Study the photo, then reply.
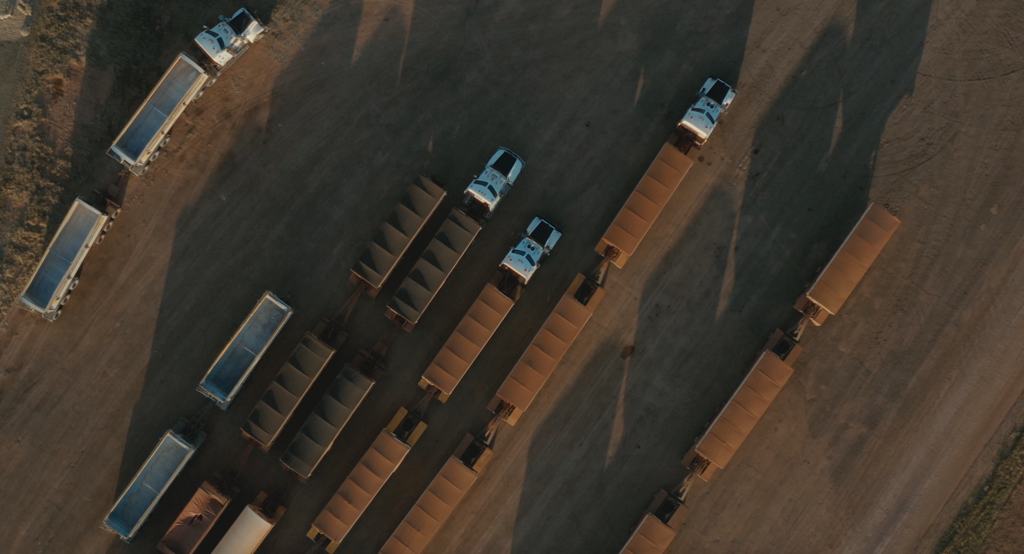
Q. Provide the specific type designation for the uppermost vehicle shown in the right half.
truck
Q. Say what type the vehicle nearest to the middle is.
truck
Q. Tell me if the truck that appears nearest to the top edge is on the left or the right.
left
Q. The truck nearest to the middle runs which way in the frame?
diagonally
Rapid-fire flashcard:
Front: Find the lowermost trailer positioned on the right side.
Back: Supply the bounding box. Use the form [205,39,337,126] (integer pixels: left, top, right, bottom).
[613,512,676,554]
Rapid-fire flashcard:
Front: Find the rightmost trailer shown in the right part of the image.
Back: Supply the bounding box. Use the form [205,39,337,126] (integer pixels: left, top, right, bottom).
[791,201,900,327]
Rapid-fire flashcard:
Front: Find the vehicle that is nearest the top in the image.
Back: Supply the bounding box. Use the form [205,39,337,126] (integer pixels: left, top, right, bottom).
[192,0,274,104]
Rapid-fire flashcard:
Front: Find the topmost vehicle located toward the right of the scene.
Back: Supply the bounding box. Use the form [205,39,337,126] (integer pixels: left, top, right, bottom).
[668,72,740,159]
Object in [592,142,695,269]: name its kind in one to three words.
trailer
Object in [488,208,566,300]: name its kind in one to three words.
truck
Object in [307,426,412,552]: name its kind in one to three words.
trailer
